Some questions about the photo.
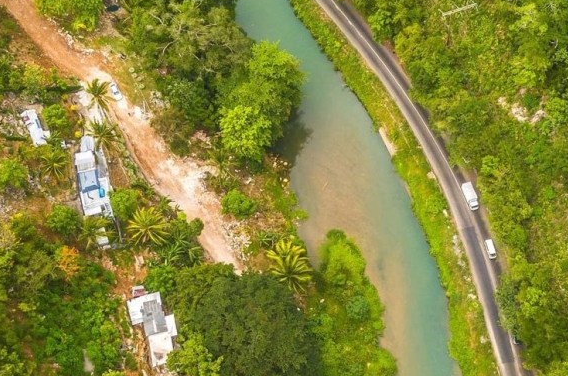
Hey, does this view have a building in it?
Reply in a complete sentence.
Yes, the photo shows a building.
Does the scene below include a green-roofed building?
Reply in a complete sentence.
No, I can see no green-roofed building in this picture.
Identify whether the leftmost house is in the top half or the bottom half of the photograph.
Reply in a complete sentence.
The top half of the photo is where the leftmost house is.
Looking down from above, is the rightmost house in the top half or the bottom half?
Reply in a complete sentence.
It is in the bottom half that the rightmost house appears.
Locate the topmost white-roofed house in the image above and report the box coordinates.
[21,110,53,150]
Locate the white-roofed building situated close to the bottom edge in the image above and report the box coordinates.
[127,283,179,367]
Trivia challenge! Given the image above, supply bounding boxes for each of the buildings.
[127,283,179,367]
[21,110,53,150]
[76,136,116,218]
[97,228,111,247]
